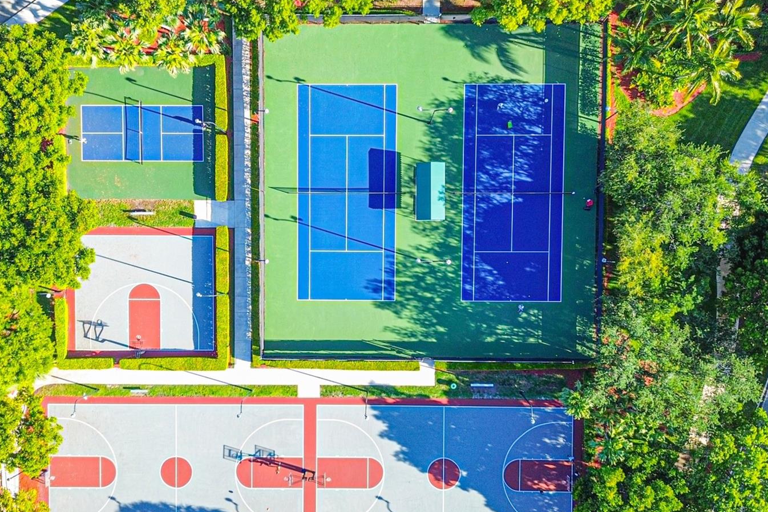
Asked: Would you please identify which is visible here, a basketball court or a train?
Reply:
basketball court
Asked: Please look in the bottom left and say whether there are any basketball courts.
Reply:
Yes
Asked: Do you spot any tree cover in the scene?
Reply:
Yes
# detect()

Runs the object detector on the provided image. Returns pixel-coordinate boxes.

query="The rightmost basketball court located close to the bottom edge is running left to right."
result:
[310,397,581,512]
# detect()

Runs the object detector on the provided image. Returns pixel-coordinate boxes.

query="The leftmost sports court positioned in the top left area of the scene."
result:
[65,66,217,201]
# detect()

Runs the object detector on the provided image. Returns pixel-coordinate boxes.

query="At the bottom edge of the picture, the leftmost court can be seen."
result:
[40,395,310,512]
